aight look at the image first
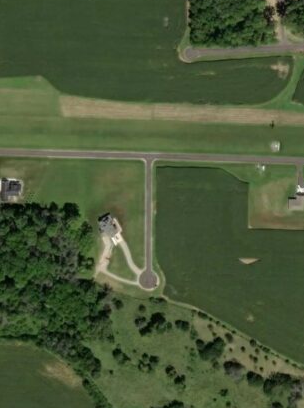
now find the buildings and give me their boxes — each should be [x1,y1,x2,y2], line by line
[98,215,121,240]
[0,181,22,203]
[288,195,304,211]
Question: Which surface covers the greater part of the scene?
farmland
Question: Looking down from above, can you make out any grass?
Yes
